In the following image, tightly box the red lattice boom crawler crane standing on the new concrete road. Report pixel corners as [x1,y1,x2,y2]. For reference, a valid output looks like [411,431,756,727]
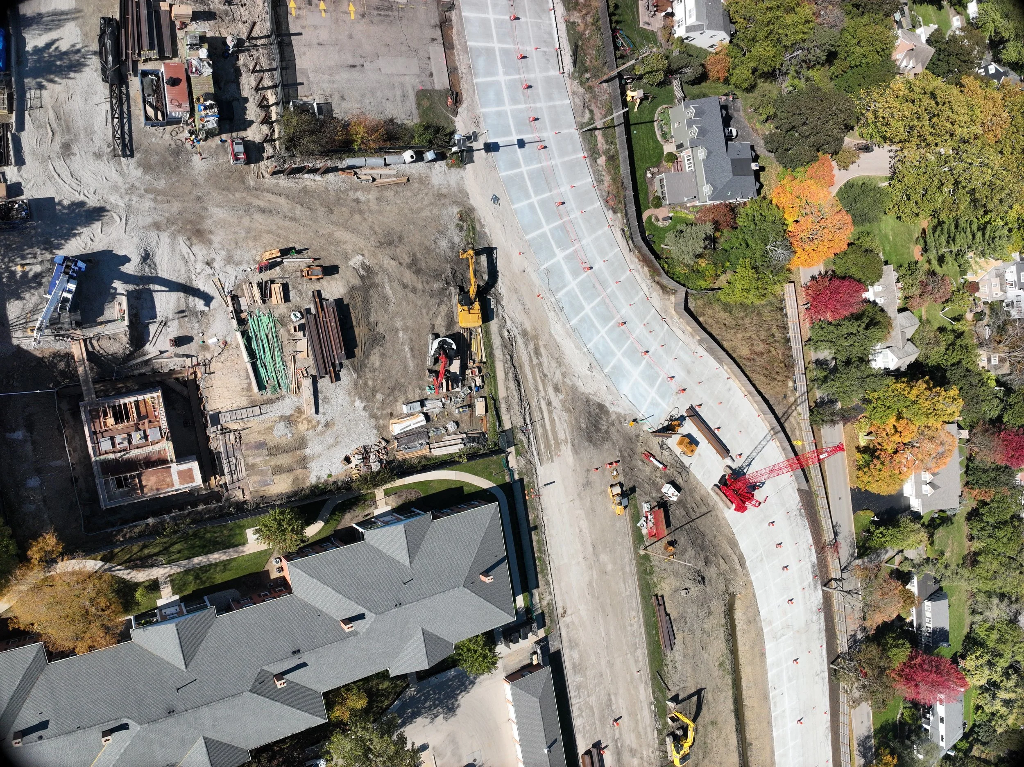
[716,443,846,520]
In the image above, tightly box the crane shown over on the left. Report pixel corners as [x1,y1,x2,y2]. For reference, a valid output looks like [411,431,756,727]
[16,252,108,350]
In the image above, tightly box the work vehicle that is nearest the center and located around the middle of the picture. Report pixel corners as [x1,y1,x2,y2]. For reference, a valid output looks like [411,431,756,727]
[429,335,459,395]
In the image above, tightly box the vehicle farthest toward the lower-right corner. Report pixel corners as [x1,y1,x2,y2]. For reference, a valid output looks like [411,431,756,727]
[668,711,697,766]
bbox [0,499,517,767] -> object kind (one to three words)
building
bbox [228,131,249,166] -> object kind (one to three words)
work vehicle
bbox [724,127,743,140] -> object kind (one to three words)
vehicle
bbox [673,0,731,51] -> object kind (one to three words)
house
